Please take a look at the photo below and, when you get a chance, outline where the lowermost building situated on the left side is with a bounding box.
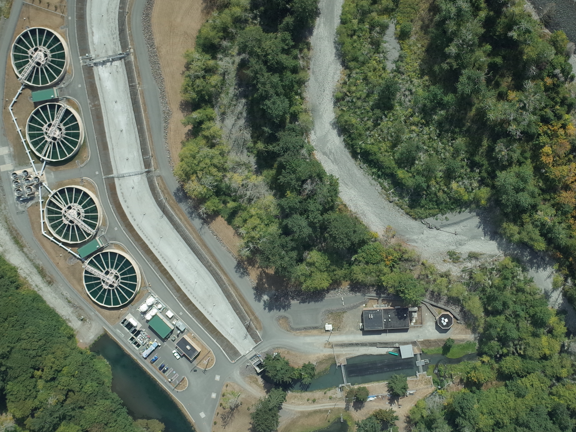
[175,337,200,360]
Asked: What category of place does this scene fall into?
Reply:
industrial area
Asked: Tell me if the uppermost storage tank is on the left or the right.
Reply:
left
